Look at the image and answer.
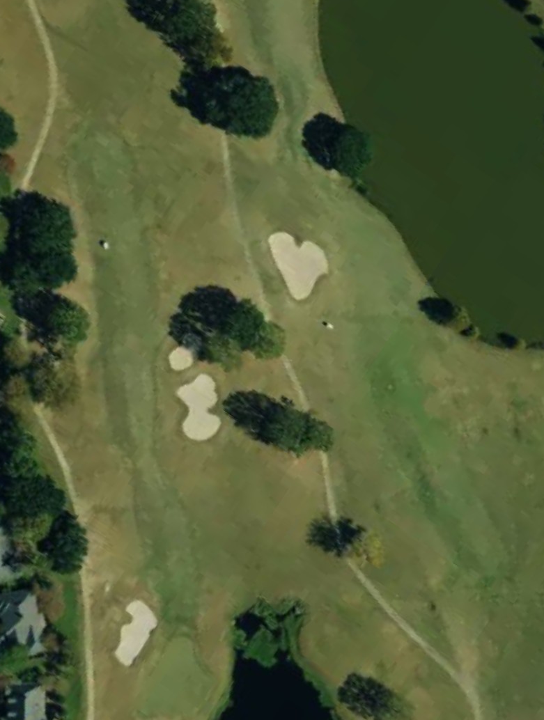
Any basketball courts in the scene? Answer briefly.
No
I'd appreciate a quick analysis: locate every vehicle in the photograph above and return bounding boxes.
[325,322,334,330]
[102,241,109,250]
